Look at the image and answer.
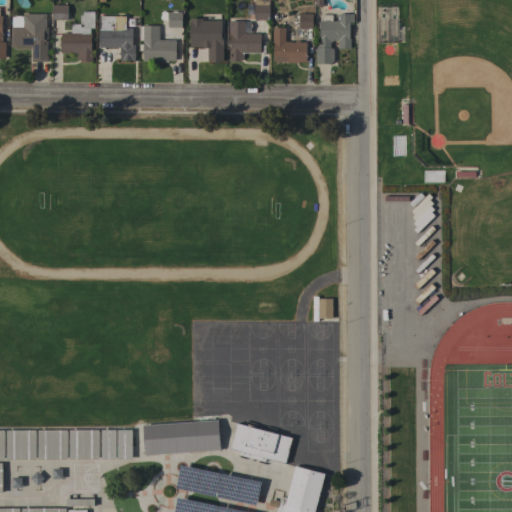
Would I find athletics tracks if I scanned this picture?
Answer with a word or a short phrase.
Yes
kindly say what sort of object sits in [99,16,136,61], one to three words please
house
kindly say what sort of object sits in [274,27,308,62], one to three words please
house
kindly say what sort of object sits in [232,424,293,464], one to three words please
building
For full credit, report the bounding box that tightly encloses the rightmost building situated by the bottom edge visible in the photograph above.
[284,466,326,512]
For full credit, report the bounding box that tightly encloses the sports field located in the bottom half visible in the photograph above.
[445,364,512,512]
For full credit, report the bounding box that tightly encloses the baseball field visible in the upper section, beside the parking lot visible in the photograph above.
[414,56,512,167]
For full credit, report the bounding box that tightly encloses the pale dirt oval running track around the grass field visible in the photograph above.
[0,125,330,283]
